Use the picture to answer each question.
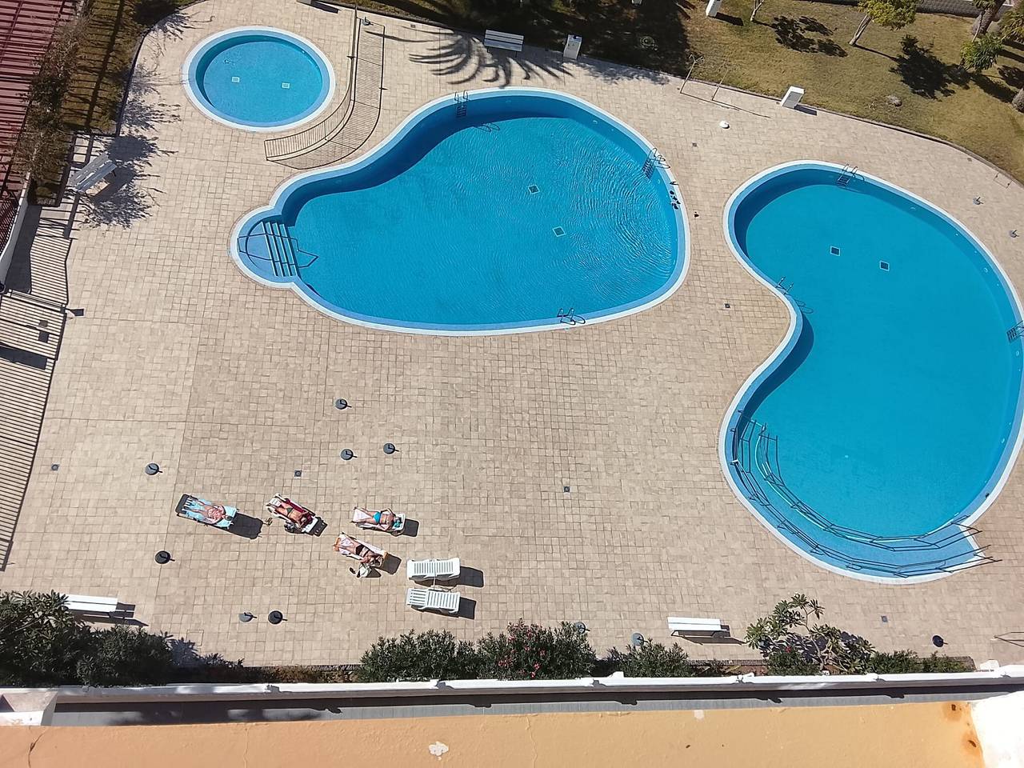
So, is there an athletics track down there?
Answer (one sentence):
No, there is no athletics track in the image.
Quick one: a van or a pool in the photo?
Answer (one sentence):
Of the two, only a pool appears.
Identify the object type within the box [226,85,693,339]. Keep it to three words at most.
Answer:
swimming pool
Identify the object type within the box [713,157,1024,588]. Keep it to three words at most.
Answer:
swimming pool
